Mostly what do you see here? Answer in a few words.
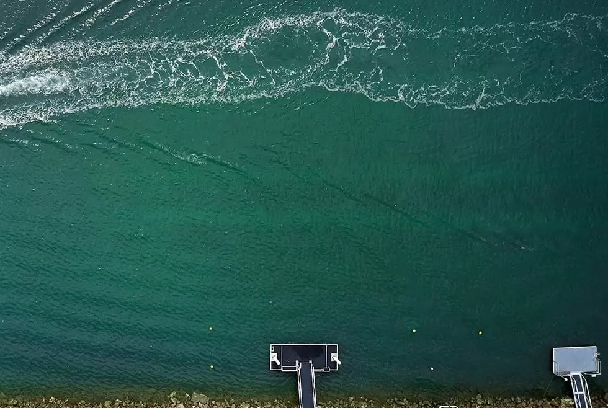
water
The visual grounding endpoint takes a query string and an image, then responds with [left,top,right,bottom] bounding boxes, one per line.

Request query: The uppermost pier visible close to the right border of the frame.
[552,346,604,381]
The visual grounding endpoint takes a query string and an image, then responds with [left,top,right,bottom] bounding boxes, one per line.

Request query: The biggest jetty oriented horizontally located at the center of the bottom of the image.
[270,344,338,372]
